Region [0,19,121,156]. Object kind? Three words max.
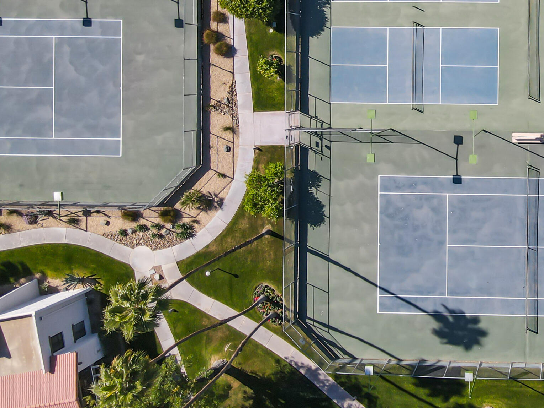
tennis court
